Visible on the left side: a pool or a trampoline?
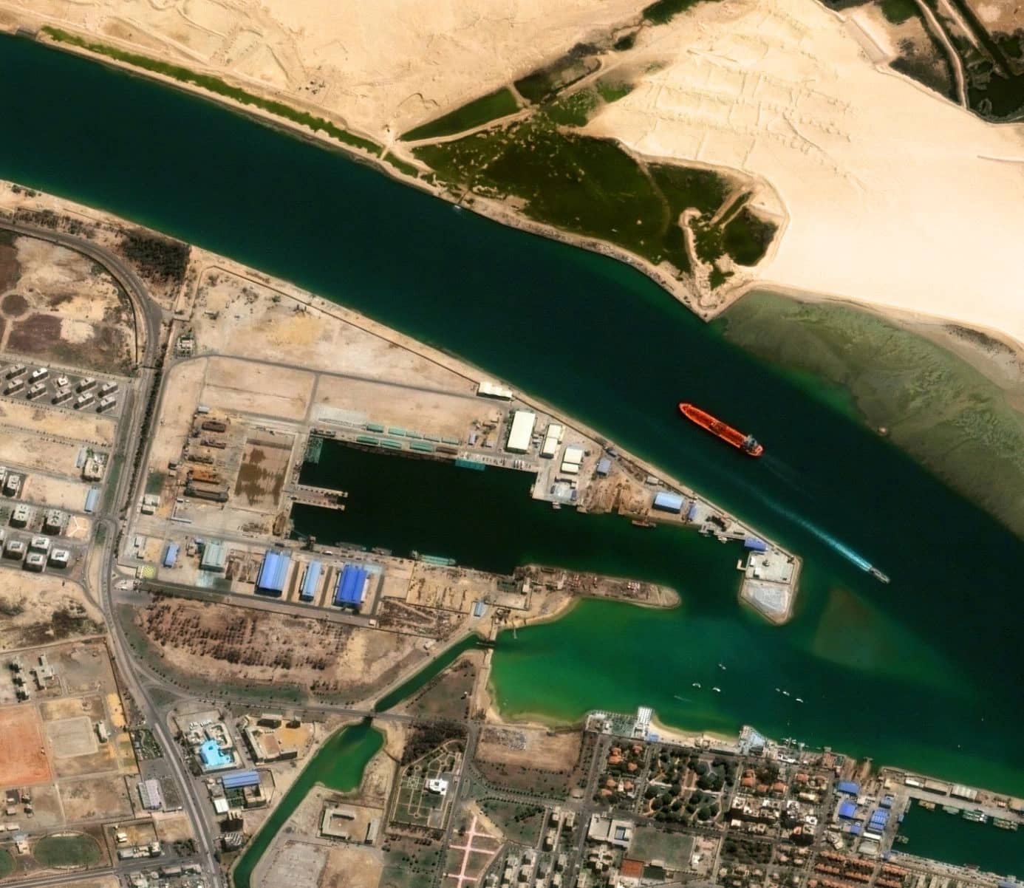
pool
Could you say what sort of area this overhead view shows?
port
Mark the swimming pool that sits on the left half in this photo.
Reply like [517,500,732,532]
[200,740,234,765]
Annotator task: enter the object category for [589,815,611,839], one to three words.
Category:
building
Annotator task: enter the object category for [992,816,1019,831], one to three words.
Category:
ship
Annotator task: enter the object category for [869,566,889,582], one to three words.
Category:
boat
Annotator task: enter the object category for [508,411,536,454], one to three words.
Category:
building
